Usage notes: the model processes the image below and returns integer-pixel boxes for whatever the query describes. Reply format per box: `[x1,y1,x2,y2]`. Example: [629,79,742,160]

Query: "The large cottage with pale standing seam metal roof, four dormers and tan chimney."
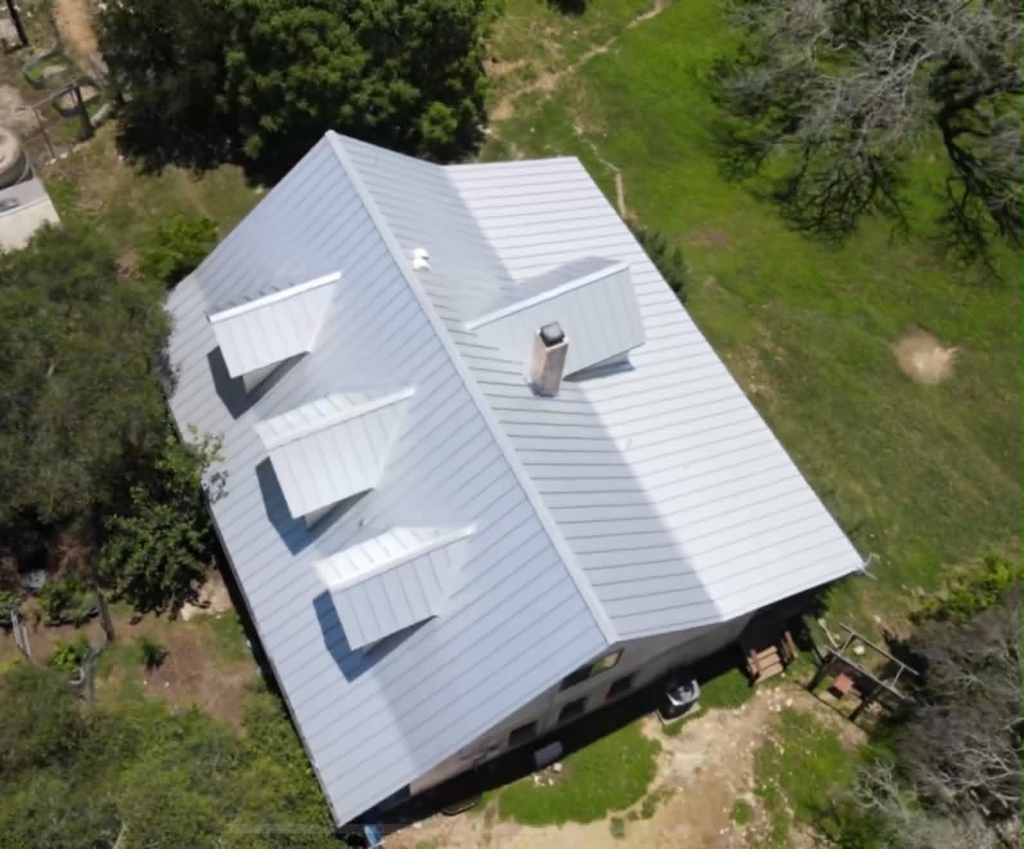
[138,128,878,828]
